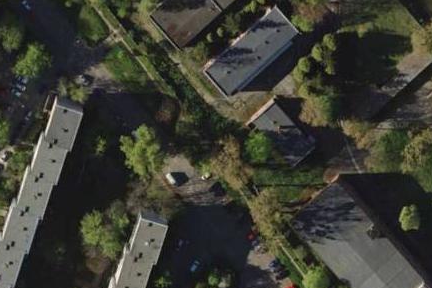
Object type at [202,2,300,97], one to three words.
building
